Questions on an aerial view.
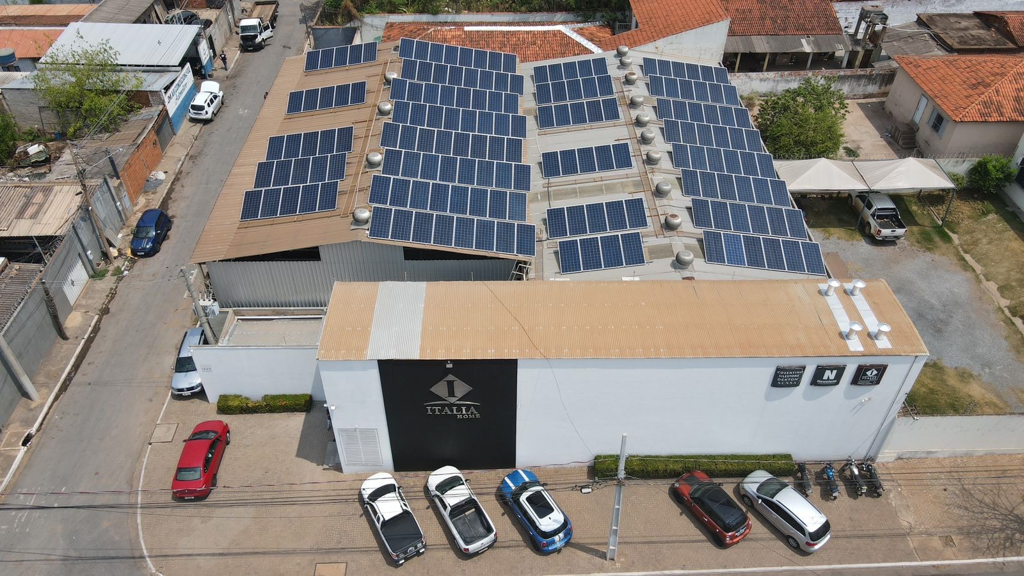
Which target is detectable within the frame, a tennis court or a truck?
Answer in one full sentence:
Of the two, only a truck appears.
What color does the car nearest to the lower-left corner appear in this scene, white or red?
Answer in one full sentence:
The color of the car nearest to the lower-left corner is red.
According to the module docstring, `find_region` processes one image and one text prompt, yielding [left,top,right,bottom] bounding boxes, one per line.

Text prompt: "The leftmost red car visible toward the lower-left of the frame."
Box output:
[168,414,228,496]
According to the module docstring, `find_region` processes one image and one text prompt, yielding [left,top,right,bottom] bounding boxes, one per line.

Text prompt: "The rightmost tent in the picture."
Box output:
[853,159,958,228]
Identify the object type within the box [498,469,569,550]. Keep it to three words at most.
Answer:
car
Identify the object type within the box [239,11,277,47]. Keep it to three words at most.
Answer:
truck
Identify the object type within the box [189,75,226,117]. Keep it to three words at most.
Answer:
car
